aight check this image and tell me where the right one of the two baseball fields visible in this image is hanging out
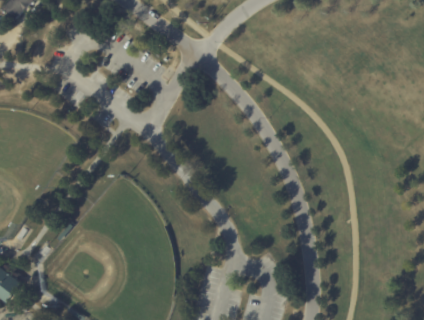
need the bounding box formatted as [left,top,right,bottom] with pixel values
[48,176,176,320]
